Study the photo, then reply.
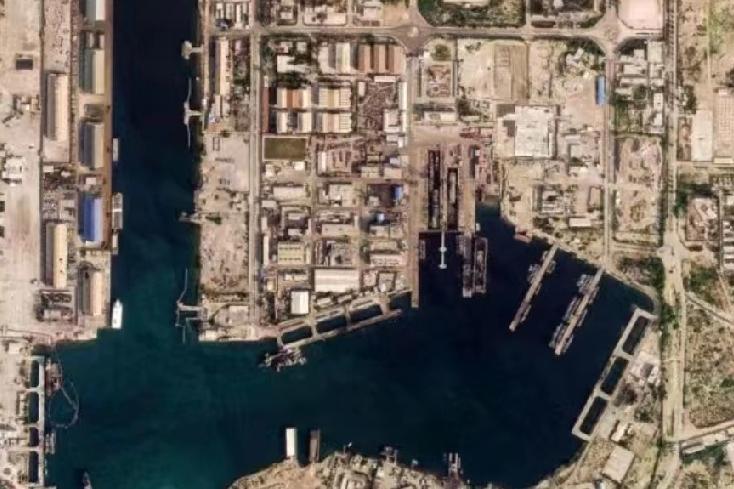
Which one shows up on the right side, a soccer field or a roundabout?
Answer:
roundabout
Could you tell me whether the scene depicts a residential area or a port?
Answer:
port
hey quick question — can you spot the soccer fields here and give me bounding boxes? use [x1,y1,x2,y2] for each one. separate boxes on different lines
[264,136,307,161]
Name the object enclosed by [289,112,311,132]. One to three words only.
building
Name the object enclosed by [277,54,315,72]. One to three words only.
building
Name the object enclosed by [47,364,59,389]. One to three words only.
ship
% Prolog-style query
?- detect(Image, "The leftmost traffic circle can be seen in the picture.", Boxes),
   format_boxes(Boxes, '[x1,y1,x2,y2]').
[388,10,435,54]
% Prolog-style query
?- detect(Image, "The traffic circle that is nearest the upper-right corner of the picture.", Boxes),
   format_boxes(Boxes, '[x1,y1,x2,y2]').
[584,8,634,58]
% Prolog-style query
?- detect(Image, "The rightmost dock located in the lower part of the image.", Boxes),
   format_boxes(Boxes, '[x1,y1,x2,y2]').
[556,267,606,355]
